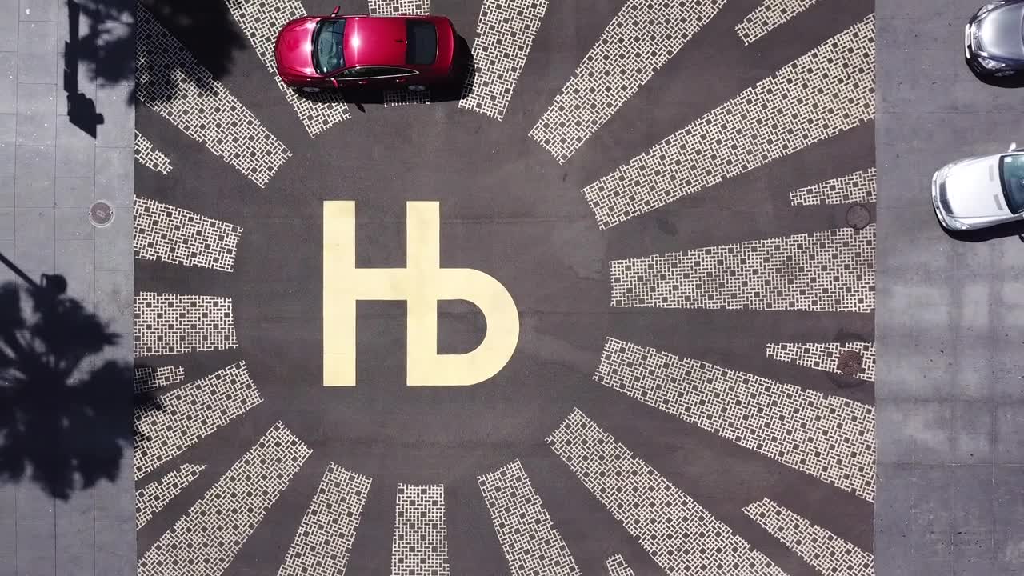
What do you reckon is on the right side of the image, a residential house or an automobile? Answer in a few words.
automobile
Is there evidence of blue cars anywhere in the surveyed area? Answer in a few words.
No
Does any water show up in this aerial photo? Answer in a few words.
No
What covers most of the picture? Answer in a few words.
paved ground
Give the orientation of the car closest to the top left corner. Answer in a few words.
horizontally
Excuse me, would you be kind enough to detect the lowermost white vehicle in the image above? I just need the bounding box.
[931,138,1024,224]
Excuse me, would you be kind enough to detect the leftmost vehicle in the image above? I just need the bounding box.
[274,4,456,91]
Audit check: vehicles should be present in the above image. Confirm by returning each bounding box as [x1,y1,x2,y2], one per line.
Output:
[931,138,1024,224]
[964,0,1024,69]
[274,4,456,91]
